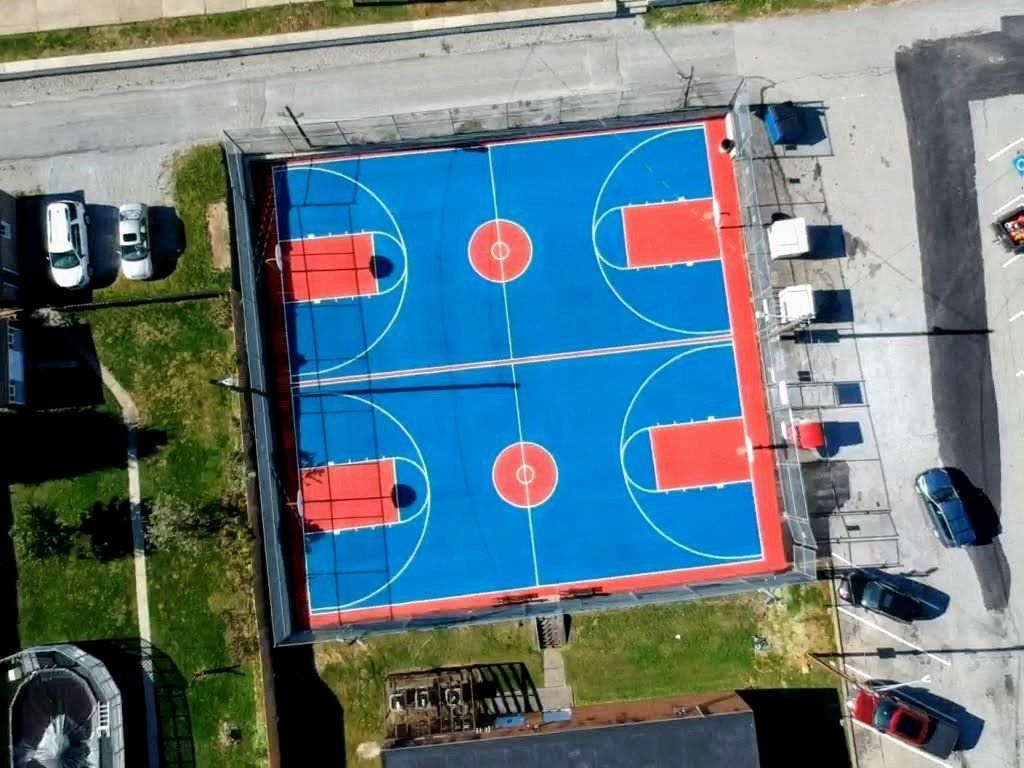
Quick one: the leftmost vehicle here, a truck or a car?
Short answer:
car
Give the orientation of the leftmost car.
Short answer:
from top to bottom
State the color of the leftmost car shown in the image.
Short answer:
white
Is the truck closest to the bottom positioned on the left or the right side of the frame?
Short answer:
right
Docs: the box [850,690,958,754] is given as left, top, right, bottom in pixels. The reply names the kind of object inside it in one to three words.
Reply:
truck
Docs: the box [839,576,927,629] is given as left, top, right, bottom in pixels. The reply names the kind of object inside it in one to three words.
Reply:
car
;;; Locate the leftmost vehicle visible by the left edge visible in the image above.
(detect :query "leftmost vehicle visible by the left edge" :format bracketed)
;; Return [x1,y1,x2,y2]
[40,197,90,289]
